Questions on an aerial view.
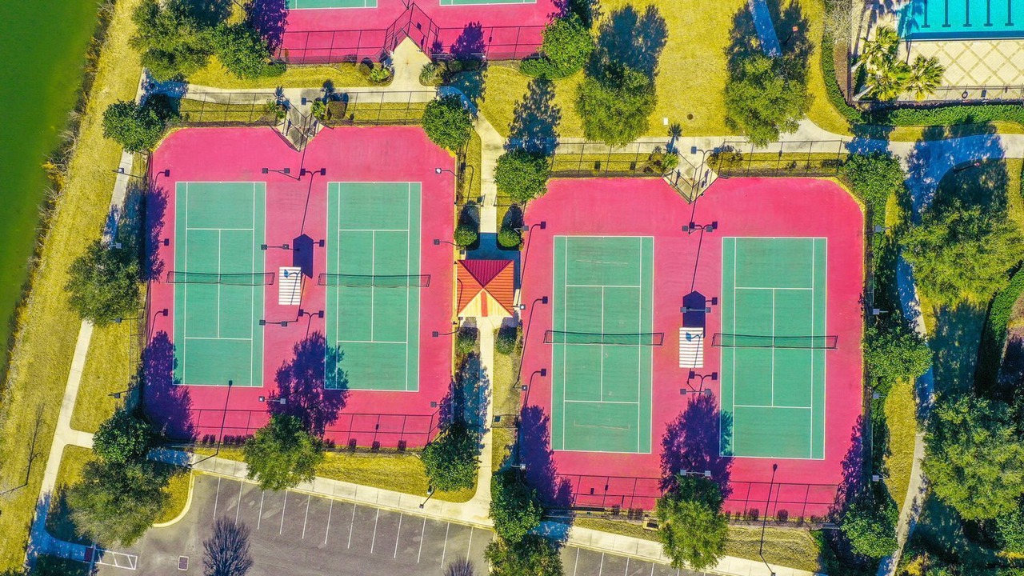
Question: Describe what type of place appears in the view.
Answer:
sports ground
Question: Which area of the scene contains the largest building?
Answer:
center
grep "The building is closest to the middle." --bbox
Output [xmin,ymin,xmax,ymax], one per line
[456,259,515,318]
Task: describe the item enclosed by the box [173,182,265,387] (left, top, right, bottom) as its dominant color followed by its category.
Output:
green tennis court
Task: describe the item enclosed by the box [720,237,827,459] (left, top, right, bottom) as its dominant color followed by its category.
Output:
green tennis court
